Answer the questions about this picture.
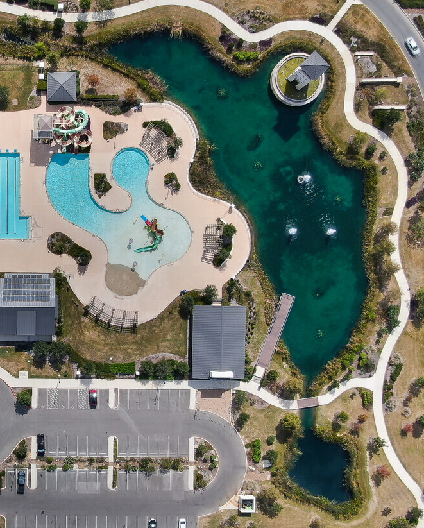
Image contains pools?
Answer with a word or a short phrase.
Yes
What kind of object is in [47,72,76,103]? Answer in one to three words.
building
